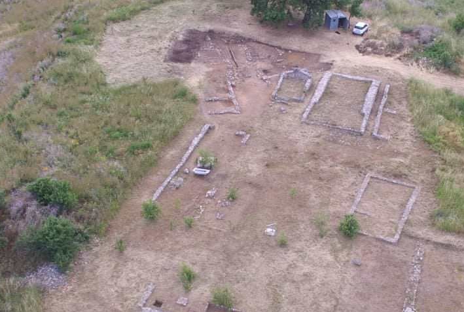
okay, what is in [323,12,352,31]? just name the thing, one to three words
shed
